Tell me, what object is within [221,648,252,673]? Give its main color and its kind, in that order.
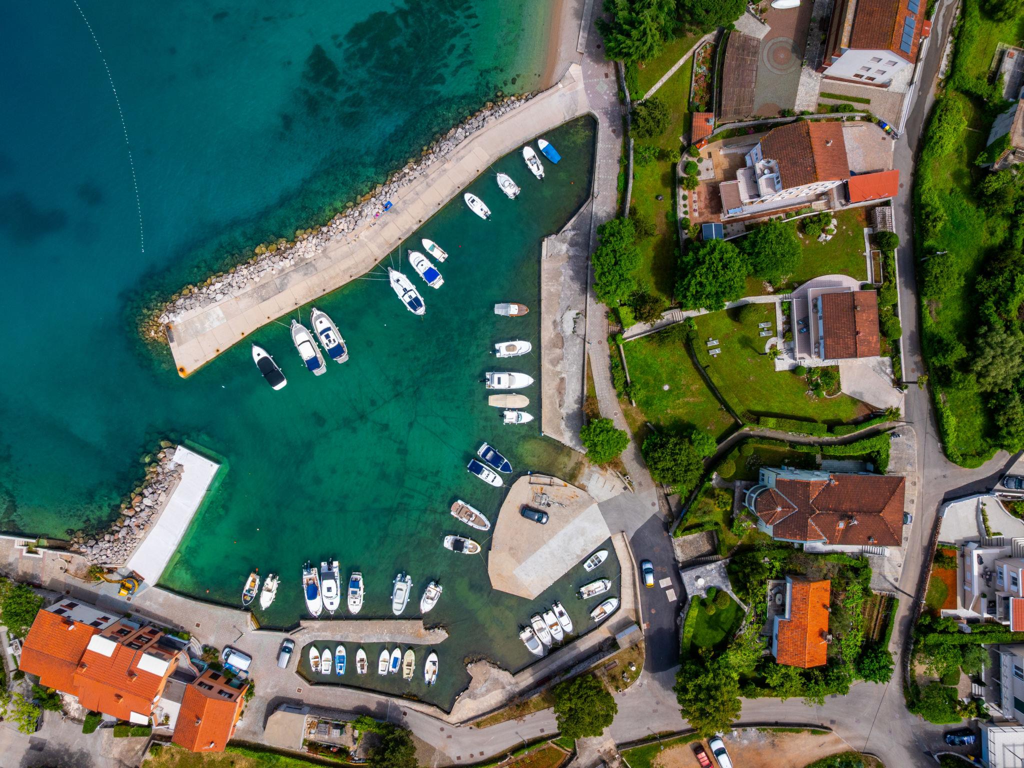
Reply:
white vehicle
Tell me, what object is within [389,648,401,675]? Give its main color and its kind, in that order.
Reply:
white boat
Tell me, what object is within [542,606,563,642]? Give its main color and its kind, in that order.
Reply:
white boat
